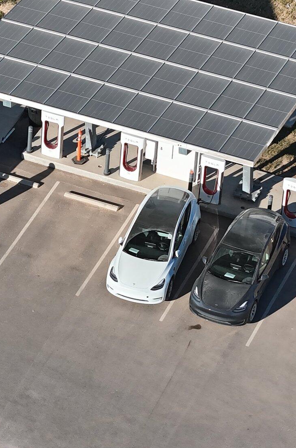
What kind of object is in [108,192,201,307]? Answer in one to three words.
car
